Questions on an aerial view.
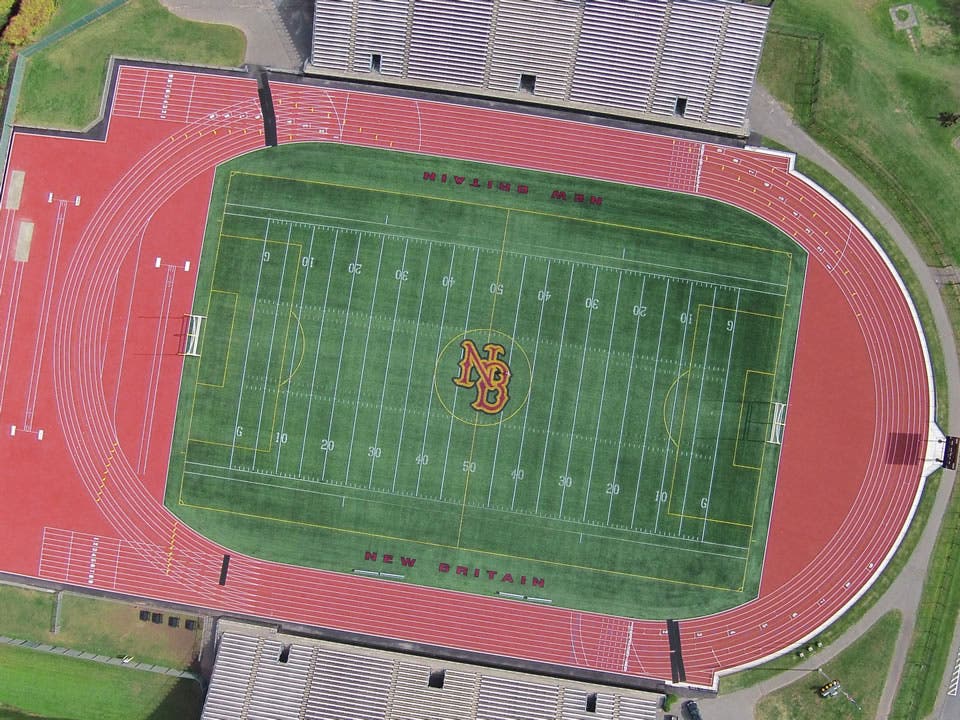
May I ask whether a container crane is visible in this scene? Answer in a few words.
No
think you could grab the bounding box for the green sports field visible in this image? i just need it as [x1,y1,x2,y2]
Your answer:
[163,140,809,622]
